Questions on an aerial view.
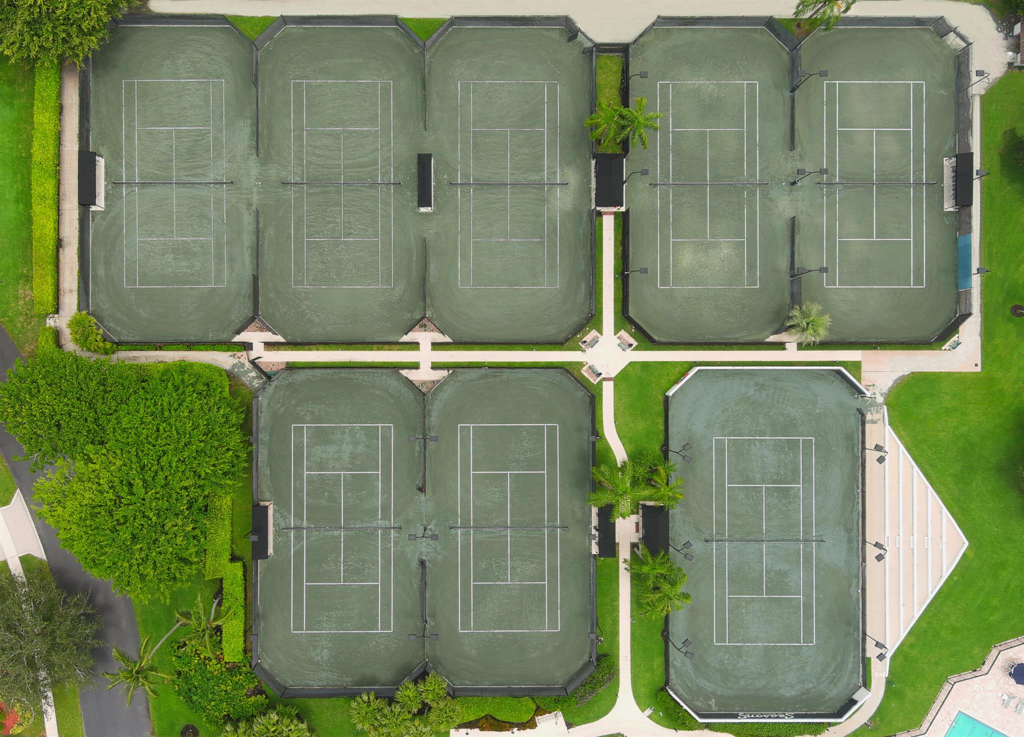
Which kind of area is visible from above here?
sports ground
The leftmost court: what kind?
tennis court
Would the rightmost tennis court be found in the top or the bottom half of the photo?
top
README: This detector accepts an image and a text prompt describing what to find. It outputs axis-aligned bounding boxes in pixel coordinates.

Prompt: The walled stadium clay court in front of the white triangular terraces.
[668,370,863,713]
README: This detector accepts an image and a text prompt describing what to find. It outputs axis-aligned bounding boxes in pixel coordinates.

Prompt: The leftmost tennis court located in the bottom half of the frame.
[258,370,425,688]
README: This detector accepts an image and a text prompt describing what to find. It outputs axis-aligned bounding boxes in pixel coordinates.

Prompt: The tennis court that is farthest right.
[793,26,960,343]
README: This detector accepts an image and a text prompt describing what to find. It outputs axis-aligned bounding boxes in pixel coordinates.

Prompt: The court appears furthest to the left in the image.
[89,27,258,341]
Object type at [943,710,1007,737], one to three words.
swimming pool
